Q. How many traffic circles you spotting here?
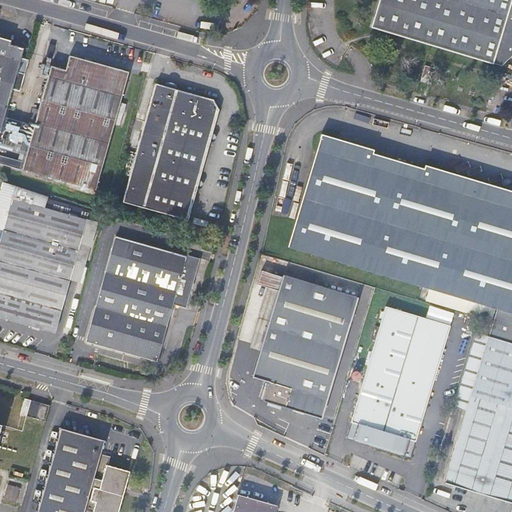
2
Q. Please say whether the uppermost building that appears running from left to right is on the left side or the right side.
right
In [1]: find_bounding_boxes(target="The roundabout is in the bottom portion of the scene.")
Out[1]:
[142,370,254,468]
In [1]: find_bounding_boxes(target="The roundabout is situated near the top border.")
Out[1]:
[228,20,328,124]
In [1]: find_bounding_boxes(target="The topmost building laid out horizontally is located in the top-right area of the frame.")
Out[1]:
[370,0,512,63]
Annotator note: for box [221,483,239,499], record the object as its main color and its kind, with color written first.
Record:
white vehicle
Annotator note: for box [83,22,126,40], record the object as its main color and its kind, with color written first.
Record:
white vehicle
